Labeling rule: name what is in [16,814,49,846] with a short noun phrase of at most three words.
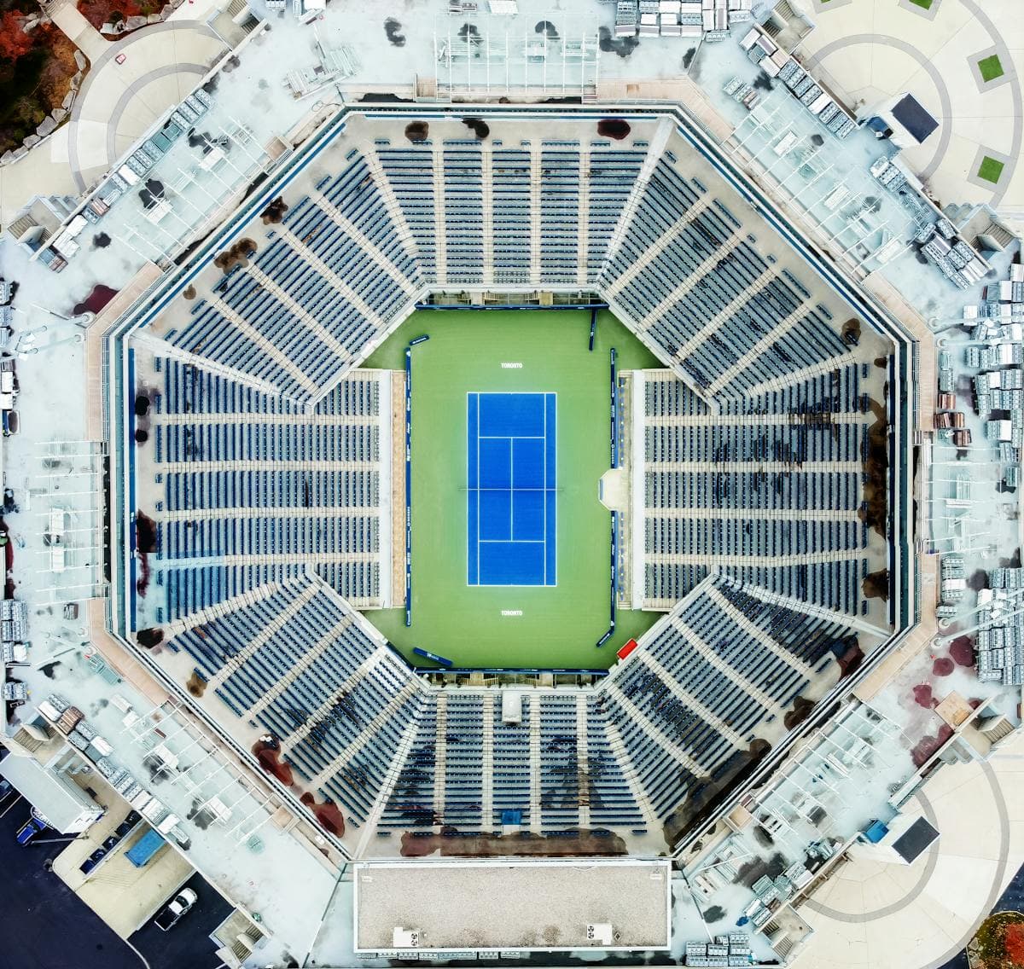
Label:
truck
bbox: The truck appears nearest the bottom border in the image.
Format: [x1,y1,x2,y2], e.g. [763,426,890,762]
[153,887,202,932]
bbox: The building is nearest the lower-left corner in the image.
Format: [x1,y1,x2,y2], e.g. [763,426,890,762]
[0,743,115,835]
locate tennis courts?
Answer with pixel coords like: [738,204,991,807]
[358,292,666,686]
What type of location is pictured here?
sports ground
